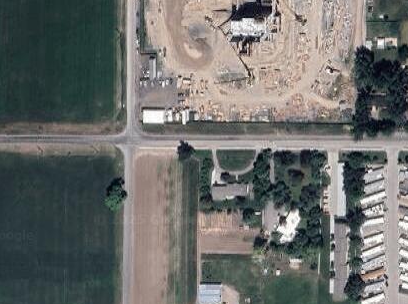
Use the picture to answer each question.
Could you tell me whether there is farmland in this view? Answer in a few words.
Yes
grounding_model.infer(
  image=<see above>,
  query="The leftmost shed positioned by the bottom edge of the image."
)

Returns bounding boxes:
[200,283,222,303]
